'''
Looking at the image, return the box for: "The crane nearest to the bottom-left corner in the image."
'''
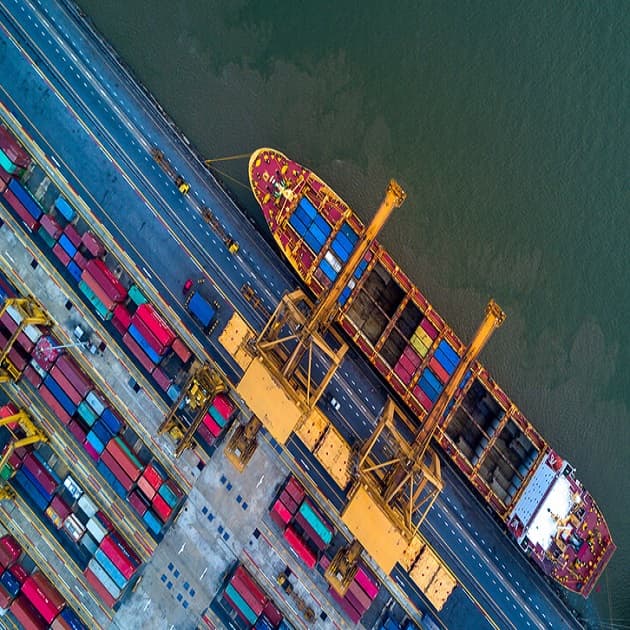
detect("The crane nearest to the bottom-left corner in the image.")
[0,407,46,474]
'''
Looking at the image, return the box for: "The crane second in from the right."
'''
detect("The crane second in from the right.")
[221,181,406,476]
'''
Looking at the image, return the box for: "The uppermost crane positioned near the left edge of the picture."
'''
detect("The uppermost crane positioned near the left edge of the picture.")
[0,294,54,389]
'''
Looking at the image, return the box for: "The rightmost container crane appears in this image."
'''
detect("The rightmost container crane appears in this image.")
[321,303,507,597]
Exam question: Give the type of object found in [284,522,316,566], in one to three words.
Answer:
shipping container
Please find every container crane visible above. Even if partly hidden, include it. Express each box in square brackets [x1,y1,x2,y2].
[154,358,233,461]
[321,303,507,597]
[0,294,54,389]
[0,407,46,474]
[221,181,406,476]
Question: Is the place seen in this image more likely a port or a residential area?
port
